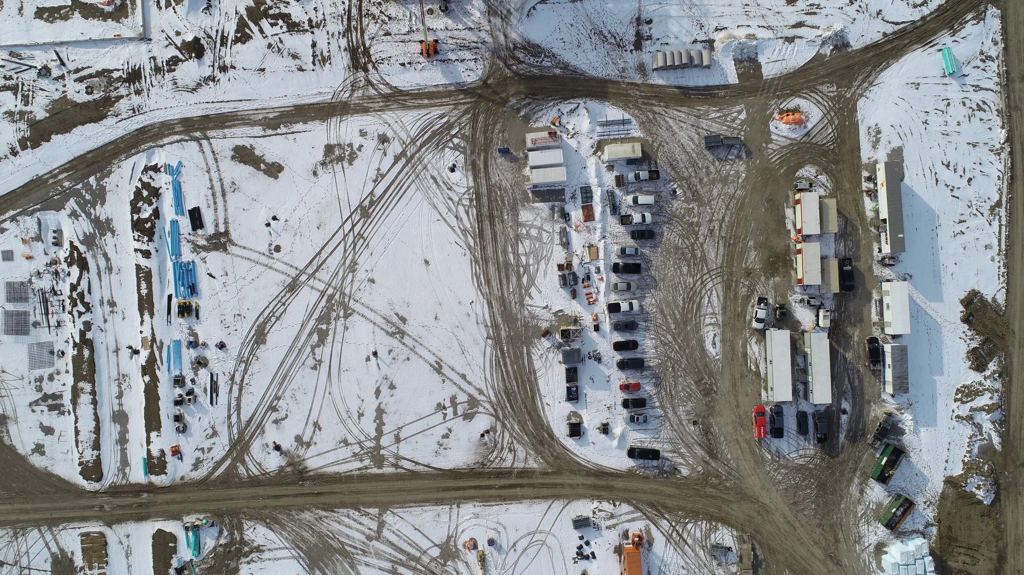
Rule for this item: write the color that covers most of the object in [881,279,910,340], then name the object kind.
white trailer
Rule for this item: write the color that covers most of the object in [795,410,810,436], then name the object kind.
black car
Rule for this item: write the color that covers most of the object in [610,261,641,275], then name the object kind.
black vehicle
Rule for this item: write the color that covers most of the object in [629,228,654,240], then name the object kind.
black vehicle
